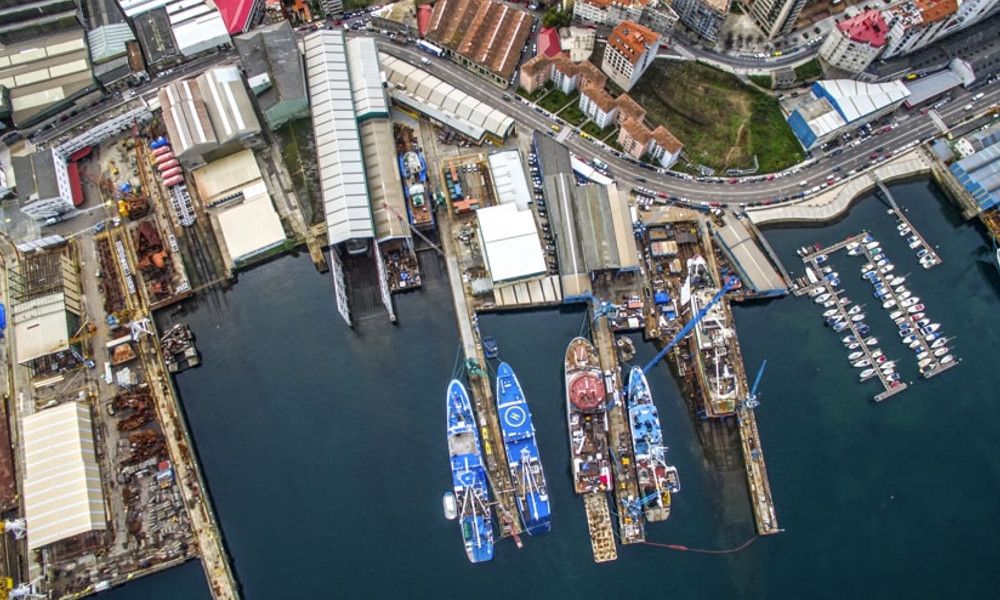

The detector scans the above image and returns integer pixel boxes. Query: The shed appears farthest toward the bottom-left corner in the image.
[21,402,105,550]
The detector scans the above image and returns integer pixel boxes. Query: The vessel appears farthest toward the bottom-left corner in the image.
[161,320,202,375]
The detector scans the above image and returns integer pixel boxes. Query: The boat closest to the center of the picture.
[482,337,498,359]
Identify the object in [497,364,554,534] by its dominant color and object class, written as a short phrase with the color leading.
blue ship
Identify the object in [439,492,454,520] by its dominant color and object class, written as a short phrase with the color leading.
white boat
